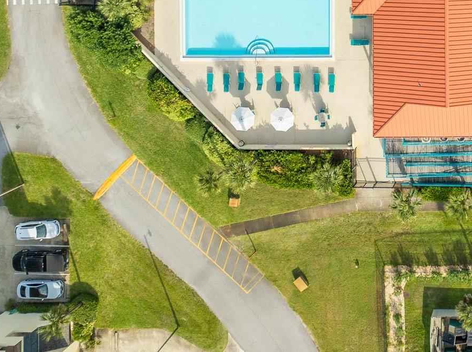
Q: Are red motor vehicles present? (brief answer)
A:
No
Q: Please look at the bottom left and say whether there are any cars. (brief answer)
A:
Yes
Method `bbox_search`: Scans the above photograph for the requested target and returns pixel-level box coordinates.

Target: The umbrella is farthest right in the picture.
[273,106,296,129]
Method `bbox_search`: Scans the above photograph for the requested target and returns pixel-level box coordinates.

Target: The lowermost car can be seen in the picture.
[16,277,66,302]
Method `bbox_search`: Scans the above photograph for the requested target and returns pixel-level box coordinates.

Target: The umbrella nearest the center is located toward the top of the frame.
[232,106,256,130]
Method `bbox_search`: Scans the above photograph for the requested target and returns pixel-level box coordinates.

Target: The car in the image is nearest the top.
[14,217,64,242]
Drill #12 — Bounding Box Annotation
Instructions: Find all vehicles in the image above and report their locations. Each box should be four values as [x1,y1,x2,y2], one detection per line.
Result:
[14,217,64,242]
[13,248,71,275]
[16,277,66,302]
